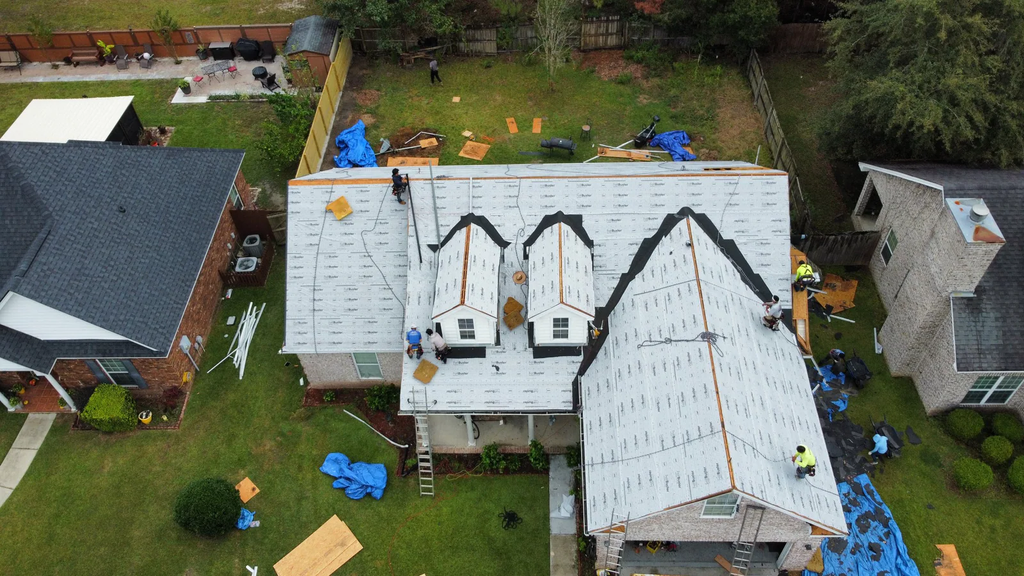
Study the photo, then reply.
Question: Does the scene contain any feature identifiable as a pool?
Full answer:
No, I can see no pool in this picture.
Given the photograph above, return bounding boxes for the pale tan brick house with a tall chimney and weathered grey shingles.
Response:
[854,161,1024,418]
